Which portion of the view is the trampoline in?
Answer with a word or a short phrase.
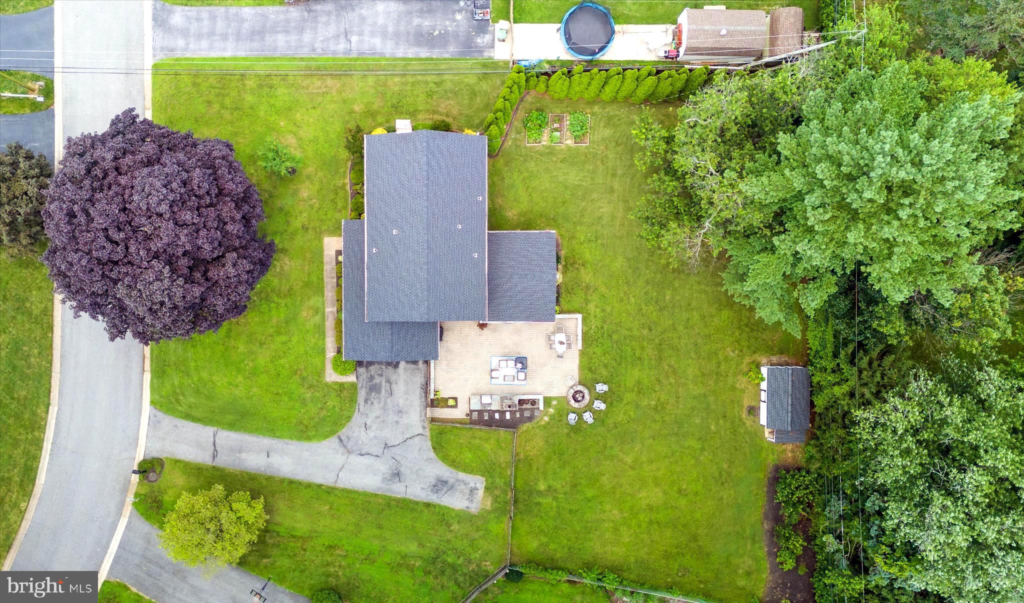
top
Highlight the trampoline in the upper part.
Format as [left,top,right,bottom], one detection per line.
[553,0,616,58]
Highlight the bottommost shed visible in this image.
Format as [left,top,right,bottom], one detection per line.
[760,366,810,442]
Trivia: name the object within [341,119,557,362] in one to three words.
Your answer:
house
